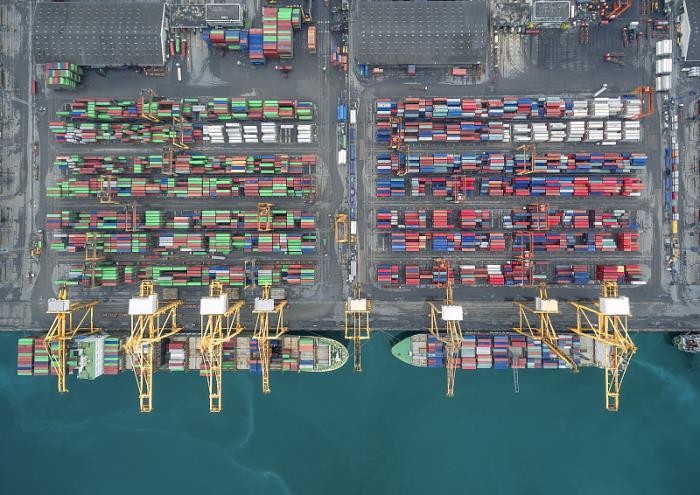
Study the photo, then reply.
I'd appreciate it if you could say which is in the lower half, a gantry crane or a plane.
gantry crane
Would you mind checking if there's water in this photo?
Yes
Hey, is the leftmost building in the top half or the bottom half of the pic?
top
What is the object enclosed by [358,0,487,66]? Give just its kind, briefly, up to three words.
building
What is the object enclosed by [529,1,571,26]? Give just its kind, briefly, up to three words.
building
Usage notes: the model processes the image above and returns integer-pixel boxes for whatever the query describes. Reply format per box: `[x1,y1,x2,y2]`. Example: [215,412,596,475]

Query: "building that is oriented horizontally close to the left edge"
[33,2,167,68]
